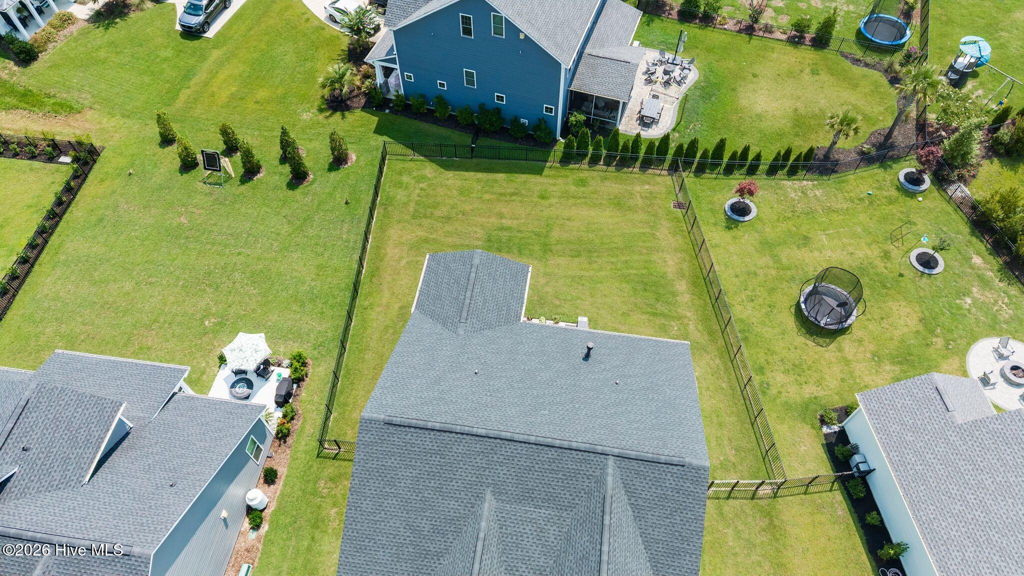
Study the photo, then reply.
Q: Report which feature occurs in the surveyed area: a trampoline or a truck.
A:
trampoline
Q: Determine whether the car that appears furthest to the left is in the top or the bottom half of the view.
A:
top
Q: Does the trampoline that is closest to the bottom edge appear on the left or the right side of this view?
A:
right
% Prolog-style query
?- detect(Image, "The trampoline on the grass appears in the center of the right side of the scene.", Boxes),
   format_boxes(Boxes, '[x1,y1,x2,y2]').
[797,266,871,339]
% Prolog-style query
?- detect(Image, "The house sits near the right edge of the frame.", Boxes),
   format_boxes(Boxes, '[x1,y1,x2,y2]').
[843,372,1024,576]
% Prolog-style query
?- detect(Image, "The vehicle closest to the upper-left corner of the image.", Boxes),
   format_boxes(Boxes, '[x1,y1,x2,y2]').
[176,0,229,33]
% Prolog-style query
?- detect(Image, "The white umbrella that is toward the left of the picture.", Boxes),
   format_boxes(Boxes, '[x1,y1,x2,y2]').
[222,332,272,377]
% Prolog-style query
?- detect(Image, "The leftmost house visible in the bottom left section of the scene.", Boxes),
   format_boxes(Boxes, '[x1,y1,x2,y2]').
[0,350,274,576]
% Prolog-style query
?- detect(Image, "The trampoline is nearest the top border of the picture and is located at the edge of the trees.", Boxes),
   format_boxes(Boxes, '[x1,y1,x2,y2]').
[855,0,923,53]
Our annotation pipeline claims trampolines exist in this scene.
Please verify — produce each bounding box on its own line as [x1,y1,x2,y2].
[855,0,923,53]
[797,266,871,339]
